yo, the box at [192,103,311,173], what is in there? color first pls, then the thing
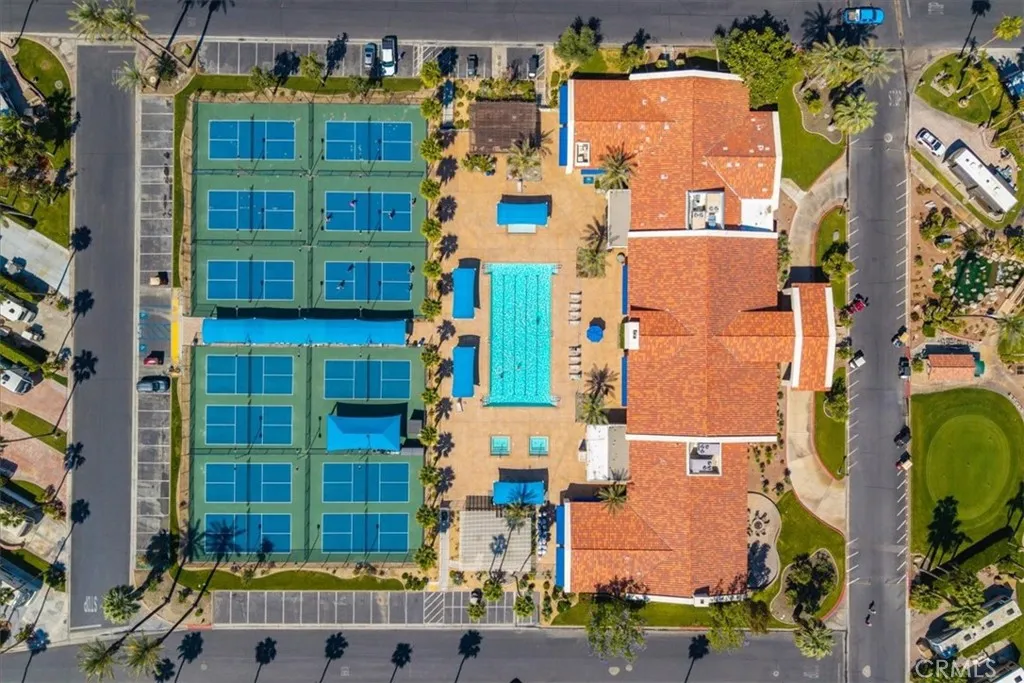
green sports court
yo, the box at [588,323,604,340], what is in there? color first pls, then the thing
blue umbrella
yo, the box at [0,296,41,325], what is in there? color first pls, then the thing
white camper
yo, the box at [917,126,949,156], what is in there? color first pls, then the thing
white car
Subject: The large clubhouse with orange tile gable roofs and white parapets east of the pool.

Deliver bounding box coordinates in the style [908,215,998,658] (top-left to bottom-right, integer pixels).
[556,69,843,609]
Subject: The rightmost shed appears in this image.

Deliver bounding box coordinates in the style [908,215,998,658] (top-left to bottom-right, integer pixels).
[919,346,985,384]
